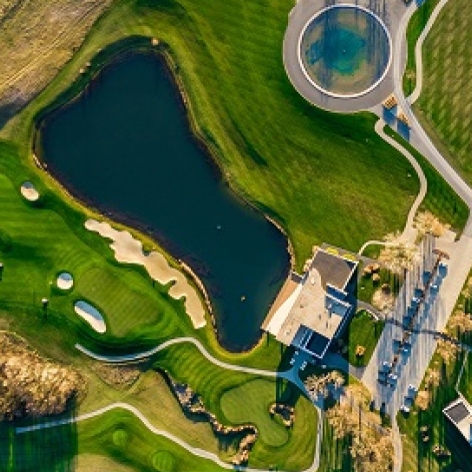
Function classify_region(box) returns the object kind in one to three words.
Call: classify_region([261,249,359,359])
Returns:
building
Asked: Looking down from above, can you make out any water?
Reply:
Yes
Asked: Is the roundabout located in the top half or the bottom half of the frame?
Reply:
top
